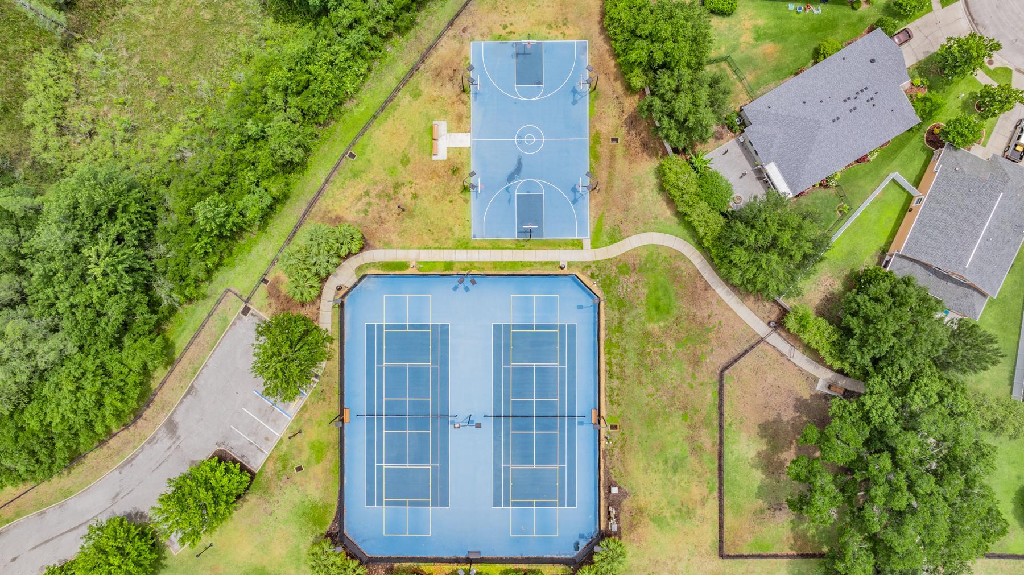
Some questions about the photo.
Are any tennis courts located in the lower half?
Yes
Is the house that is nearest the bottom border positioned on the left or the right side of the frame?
right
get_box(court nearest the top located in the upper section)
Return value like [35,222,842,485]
[471,40,590,240]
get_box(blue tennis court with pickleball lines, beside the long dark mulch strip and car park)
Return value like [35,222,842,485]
[365,295,450,536]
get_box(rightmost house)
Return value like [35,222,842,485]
[872,141,1024,320]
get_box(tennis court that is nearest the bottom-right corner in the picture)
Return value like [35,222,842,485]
[492,295,577,536]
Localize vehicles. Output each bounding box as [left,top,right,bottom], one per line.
[893,25,920,49]
[1006,117,1024,163]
